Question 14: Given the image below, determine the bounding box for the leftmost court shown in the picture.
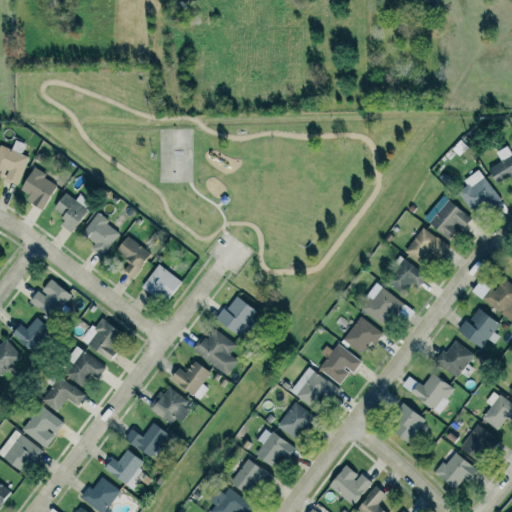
[160,129,194,183]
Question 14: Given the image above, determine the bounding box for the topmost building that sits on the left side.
[0,141,29,185]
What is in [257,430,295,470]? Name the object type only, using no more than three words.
house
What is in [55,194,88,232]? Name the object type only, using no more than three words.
house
